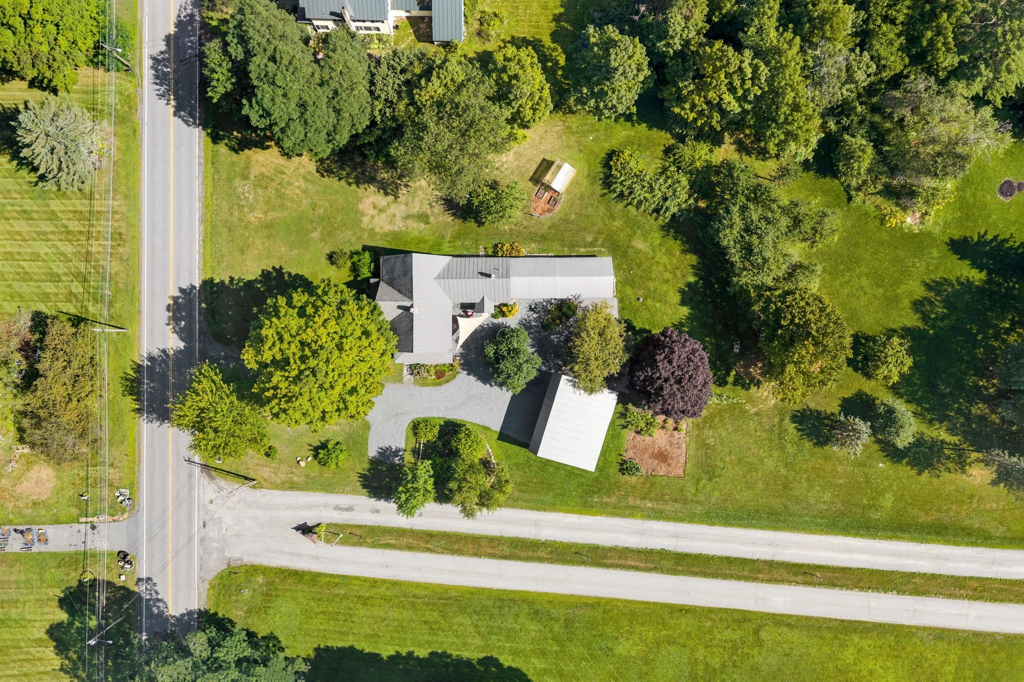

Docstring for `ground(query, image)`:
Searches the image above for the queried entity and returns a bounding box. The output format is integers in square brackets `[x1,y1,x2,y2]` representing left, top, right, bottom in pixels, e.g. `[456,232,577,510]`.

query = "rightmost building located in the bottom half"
[528,373,618,472]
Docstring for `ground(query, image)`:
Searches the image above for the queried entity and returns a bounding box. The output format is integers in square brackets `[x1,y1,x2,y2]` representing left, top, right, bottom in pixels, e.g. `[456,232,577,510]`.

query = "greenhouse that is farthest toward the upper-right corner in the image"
[543,158,576,195]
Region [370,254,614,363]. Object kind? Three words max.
house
